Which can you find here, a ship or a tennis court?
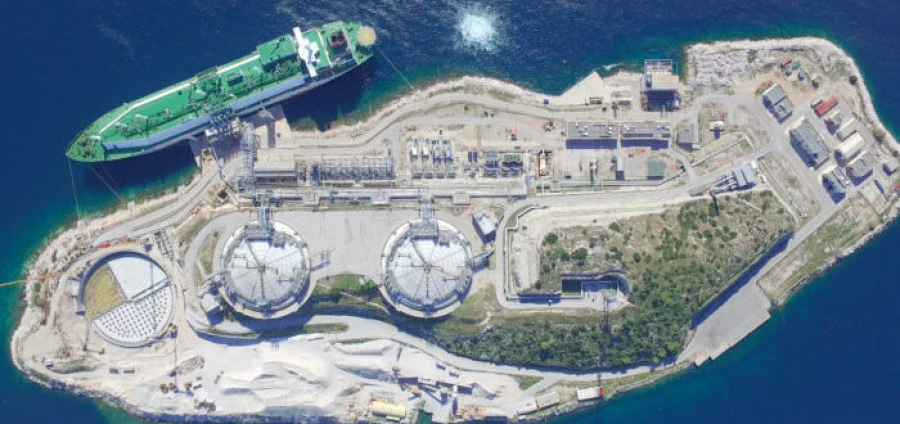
ship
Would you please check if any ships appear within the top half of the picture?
Yes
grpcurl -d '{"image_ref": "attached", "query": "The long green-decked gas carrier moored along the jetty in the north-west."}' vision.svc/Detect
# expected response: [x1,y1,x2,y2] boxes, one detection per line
[65,19,376,163]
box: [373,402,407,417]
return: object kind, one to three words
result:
shed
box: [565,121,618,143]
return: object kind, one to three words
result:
building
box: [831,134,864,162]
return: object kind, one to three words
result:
shed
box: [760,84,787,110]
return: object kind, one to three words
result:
building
